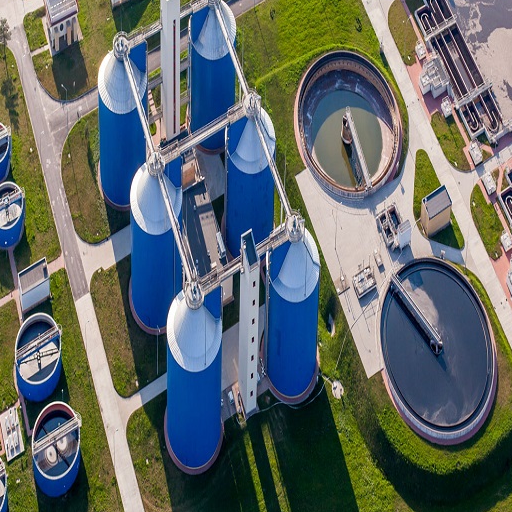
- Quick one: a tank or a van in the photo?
tank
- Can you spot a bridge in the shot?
Yes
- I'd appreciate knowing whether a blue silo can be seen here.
Yes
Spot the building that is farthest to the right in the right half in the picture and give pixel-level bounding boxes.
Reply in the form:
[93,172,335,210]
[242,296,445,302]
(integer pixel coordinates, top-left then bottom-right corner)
[416,183,452,240]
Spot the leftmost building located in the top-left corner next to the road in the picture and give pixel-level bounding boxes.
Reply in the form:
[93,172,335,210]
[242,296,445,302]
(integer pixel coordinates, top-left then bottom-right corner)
[42,0,82,56]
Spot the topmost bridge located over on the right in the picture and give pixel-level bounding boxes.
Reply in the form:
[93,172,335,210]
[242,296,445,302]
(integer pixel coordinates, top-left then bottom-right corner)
[344,100,375,195]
